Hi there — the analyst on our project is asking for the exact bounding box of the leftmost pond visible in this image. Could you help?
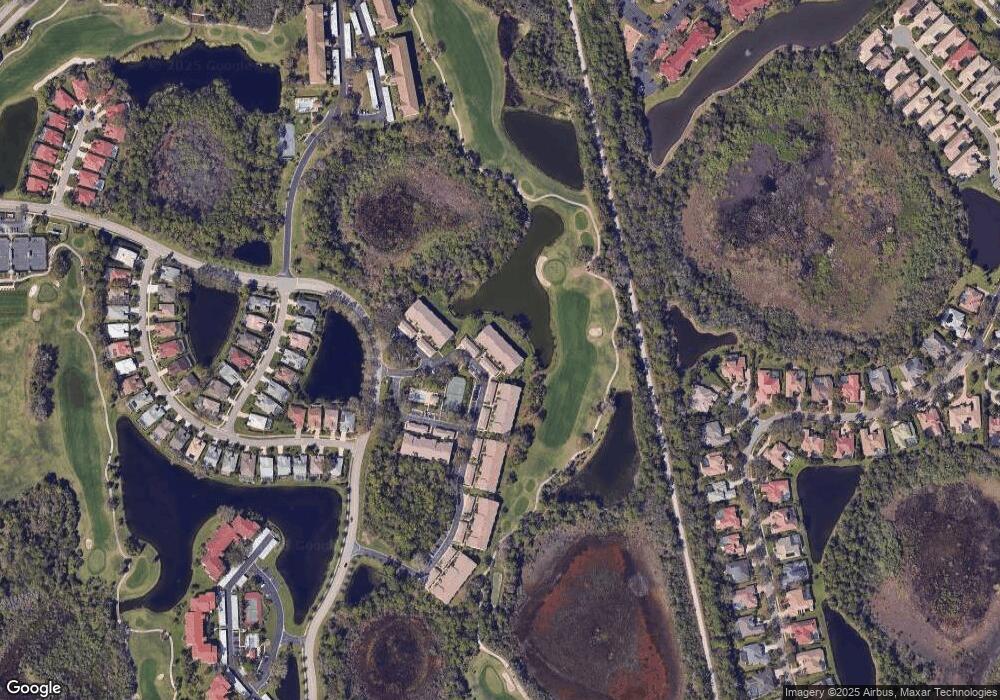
[0,97,38,193]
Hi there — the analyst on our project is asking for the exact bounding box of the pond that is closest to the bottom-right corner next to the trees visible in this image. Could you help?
[822,602,878,700]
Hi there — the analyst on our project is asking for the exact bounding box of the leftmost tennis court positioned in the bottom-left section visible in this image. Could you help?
[244,593,262,624]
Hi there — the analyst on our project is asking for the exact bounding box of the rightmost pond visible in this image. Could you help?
[960,186,1000,271]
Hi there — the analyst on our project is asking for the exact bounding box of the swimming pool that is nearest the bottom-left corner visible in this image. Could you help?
[245,633,259,648]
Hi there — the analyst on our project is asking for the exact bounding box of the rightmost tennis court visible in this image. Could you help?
[447,376,467,408]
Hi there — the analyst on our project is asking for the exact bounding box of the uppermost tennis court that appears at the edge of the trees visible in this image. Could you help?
[281,123,295,159]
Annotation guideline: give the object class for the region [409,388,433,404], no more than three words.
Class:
swimming pool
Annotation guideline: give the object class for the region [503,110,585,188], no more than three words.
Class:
pond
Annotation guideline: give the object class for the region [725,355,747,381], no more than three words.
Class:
house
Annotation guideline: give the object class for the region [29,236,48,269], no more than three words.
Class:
tennis court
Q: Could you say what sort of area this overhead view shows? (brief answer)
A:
residential area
